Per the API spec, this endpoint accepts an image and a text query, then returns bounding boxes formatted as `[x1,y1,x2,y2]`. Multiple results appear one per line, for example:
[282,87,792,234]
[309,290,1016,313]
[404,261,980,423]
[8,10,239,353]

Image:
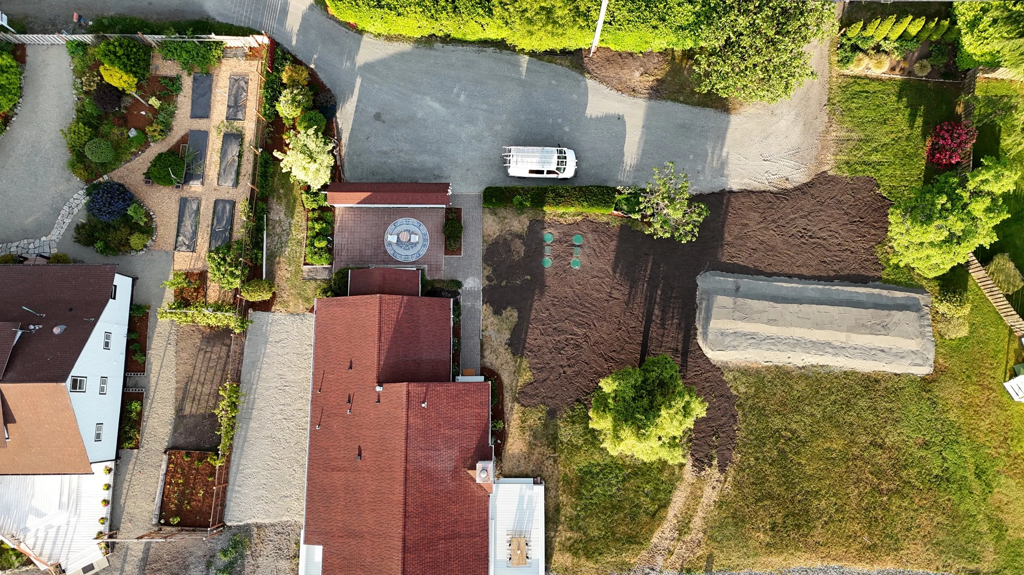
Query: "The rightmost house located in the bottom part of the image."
[302,269,496,575]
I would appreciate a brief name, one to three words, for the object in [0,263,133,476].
house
